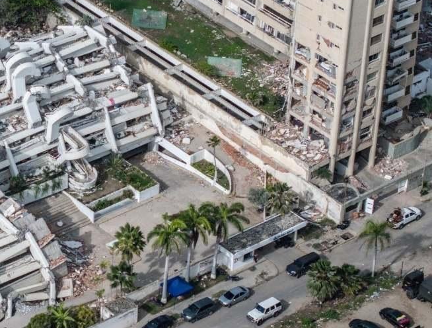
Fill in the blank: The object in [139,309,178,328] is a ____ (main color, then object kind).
black car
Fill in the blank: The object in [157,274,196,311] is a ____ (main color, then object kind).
blue tent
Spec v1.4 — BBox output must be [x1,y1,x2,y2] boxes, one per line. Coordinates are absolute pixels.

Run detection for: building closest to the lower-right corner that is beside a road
[218,210,310,275]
